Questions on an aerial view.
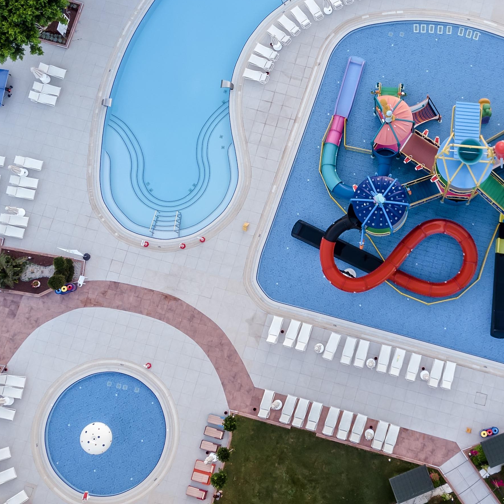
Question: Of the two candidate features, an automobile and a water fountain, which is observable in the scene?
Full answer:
The image shows a water fountain.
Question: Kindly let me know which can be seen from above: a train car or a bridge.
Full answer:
I can see a bridge in this picture.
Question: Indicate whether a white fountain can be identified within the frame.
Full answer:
Yes, a white fountain appears in the view.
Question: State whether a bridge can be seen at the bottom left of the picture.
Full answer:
No, no bridge can be made out at the bottom left of the picture.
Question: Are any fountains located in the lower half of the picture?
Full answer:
Yes, a fountain is visible in the lower half of the picture.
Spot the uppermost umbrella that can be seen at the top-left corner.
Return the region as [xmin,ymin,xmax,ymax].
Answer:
[31,68,52,84]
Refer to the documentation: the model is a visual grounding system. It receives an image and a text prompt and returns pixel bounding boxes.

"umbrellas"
[271,399,282,410]
[323,0,333,17]
[31,68,52,84]
[4,206,26,216]
[365,358,375,368]
[0,396,15,407]
[271,36,282,52]
[314,343,324,353]
[364,429,374,439]
[420,370,430,380]
[8,165,29,177]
